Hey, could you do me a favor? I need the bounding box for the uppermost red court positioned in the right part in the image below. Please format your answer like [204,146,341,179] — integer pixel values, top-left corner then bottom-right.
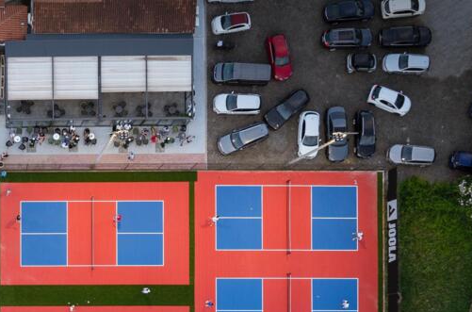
[196,172,379,264]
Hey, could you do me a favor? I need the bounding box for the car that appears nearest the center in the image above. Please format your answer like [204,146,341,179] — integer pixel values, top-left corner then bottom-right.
[214,120,269,155]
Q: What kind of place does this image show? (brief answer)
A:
sports ground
